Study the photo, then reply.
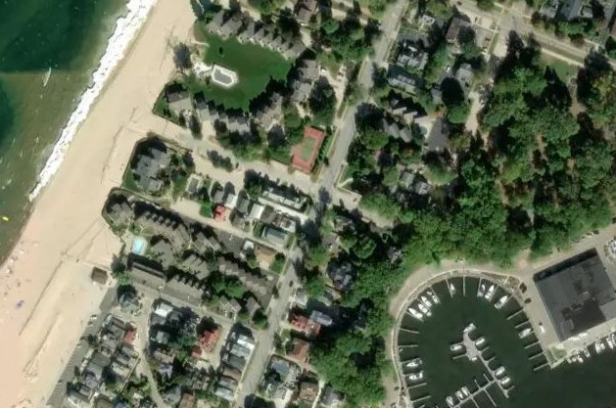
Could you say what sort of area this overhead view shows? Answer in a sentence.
It's a residential area.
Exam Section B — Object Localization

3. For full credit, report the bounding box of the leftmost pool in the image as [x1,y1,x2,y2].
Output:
[130,234,147,254]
